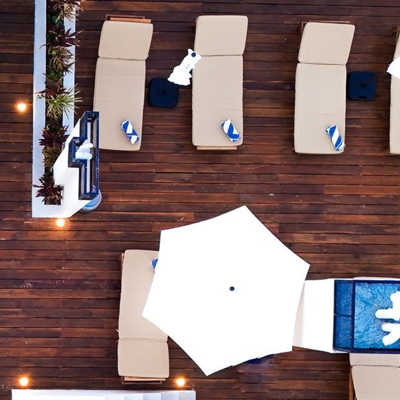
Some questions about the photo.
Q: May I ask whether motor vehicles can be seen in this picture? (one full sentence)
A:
No, there isn't any motor vehicle down there.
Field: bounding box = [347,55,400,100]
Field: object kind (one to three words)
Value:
umbrella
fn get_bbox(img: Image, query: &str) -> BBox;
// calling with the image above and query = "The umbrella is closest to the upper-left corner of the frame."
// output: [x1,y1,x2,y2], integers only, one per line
[149,52,197,107]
